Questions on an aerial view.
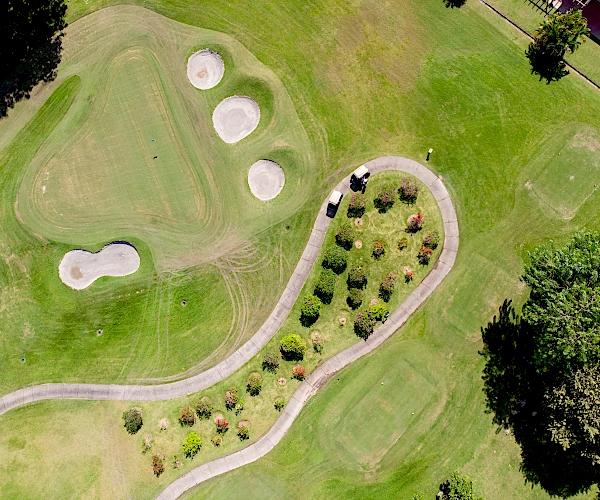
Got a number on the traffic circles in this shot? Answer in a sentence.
The photo contains no traffic circles.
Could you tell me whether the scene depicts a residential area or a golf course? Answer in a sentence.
It's a golf course.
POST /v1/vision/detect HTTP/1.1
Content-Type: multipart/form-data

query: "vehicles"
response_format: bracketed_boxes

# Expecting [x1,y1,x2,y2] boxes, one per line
[351,164,370,182]
[327,191,342,209]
